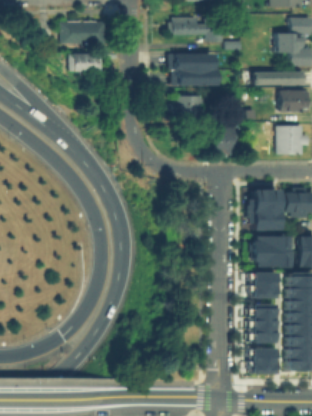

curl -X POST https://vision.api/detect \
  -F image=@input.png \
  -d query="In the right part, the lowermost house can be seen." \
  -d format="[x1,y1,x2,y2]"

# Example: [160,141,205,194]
[244,349,280,374]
